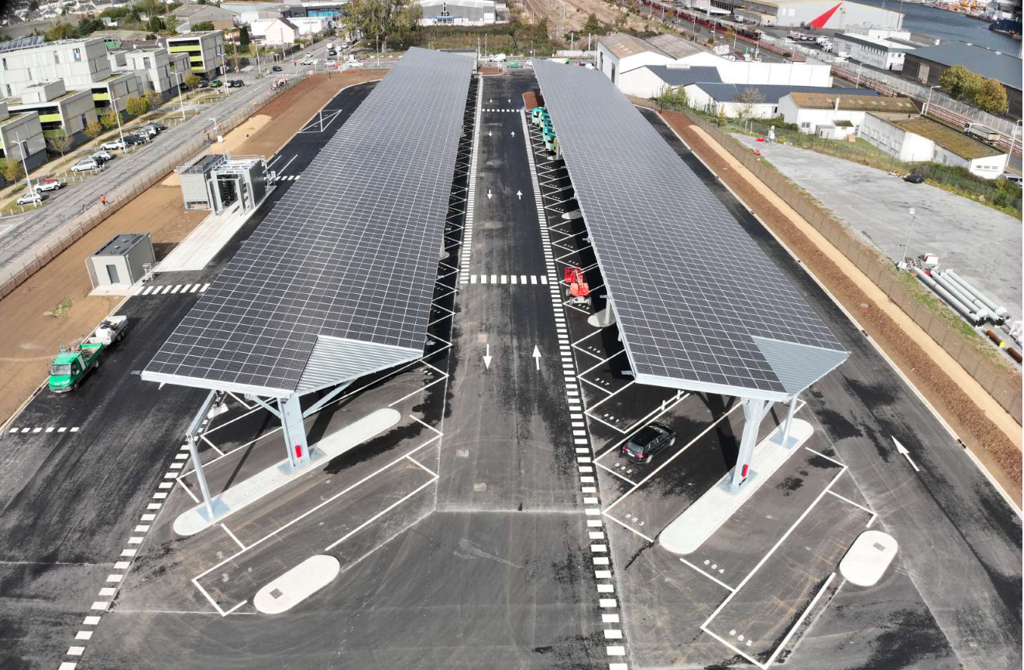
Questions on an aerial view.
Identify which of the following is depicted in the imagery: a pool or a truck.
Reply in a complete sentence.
Looking from above, you can make out a truck.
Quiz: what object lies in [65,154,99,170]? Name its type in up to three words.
car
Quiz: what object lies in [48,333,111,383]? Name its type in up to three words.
truck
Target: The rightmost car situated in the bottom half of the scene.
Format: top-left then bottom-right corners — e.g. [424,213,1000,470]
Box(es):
[622,418,680,464]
